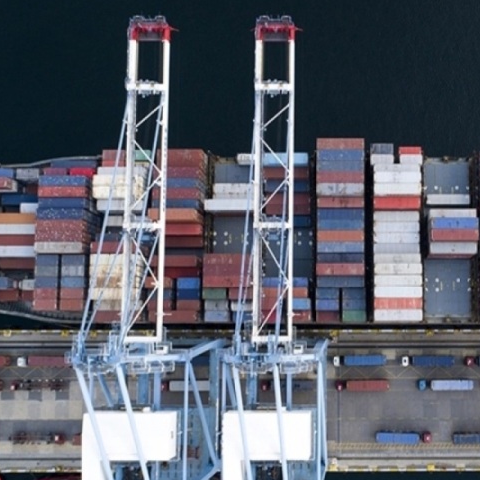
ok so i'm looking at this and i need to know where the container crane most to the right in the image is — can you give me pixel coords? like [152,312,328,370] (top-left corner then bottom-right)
[218,14,345,480]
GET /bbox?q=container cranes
[62,13,237,480]
[218,14,345,480]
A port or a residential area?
port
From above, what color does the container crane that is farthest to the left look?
white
